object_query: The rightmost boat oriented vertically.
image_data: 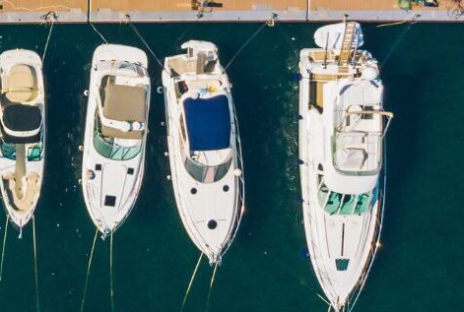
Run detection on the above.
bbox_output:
[294,41,384,312]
